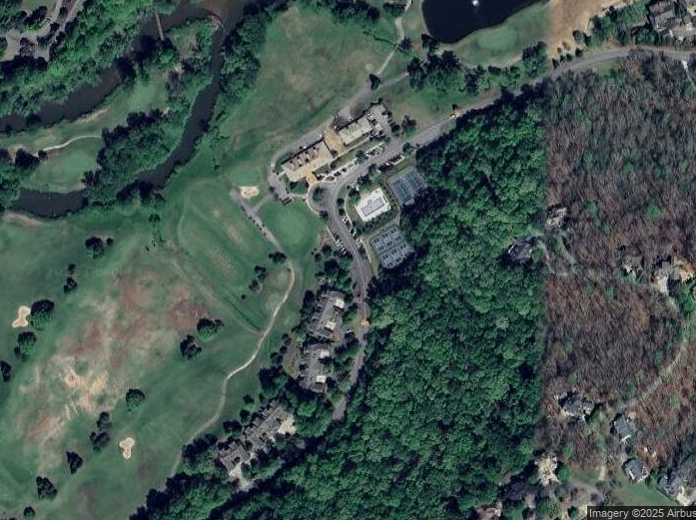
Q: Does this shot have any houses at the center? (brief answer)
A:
Yes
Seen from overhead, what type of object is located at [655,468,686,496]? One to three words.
house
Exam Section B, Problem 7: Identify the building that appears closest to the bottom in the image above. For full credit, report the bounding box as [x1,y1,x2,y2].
[475,502,503,520]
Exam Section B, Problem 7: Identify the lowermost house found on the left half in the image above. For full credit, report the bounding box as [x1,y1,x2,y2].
[219,436,250,468]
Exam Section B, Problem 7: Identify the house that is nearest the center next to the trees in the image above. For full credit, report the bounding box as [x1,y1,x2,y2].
[307,291,345,335]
